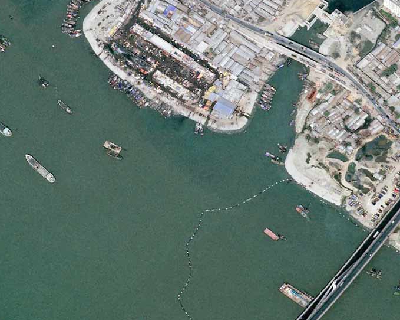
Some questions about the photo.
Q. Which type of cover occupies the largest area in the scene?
water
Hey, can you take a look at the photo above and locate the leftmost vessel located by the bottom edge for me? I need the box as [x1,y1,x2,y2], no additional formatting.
[280,283,312,309]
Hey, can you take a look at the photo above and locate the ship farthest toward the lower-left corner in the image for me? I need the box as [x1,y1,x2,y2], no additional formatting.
[25,154,55,184]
